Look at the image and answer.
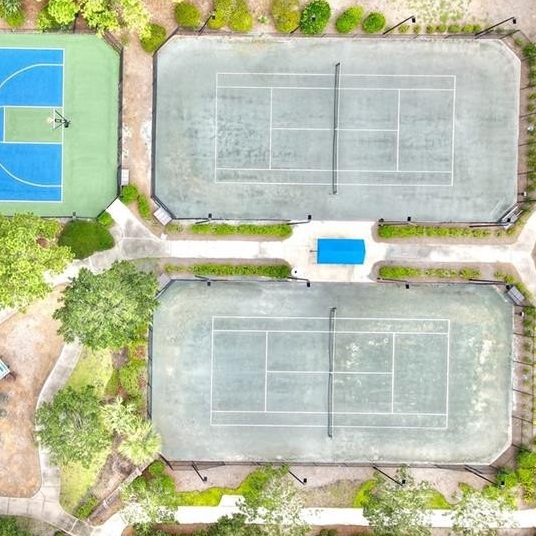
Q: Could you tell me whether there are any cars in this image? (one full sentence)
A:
No, the picture doesn't show any car.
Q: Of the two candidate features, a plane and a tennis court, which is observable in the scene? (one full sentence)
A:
The image shows a tennis court.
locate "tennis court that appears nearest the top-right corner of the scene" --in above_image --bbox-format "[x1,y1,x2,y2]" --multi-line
[152,35,521,221]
